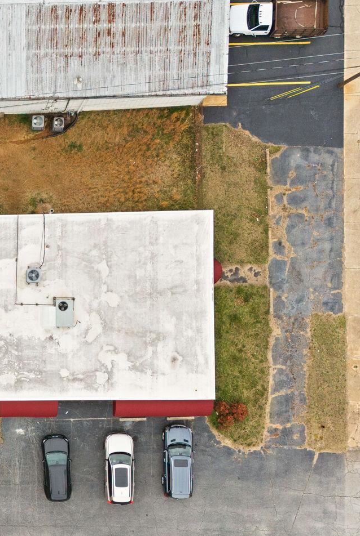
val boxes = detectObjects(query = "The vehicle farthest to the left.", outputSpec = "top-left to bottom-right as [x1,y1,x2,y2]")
[41,432,74,502]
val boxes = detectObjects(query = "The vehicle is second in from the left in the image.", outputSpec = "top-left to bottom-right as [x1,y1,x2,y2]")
[103,431,139,506]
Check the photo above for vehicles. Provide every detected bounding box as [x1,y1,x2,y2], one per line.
[41,432,74,502]
[159,423,197,500]
[230,0,325,39]
[103,431,139,506]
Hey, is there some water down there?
No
